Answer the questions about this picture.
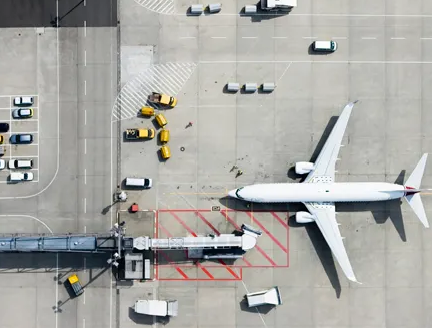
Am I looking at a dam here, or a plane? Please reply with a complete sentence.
There is a plane in the scene.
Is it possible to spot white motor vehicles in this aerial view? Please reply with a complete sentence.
Yes, a white motor vehicle is visible in the scene.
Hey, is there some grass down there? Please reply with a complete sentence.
No, no grass is visible.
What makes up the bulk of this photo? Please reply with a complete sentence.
The scene is dominated by paved ground.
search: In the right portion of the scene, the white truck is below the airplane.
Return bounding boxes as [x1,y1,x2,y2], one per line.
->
[245,284,282,306]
